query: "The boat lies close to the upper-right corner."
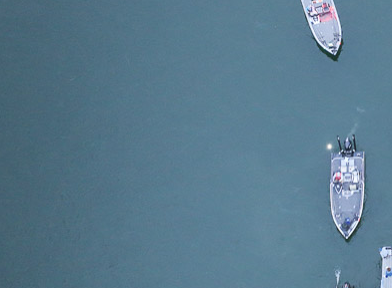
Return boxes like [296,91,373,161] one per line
[302,0,341,57]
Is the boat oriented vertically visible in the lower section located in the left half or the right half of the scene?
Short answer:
right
